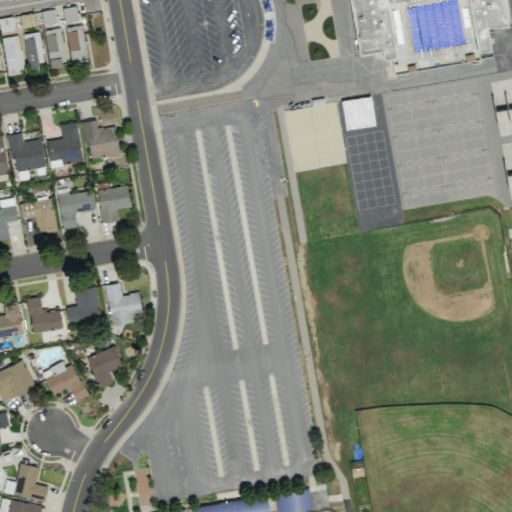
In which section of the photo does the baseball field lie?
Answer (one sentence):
The baseball field appears toward the right of the photo.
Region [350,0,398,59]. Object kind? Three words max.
building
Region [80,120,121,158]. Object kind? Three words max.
house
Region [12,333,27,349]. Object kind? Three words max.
swimming pool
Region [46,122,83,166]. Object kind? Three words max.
house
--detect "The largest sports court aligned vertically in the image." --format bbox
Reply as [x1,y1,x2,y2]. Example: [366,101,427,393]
[338,93,404,230]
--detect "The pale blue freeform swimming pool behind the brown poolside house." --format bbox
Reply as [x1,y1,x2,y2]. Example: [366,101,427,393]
[36,346,64,368]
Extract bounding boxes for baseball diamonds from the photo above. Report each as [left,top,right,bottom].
[388,208,511,350]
